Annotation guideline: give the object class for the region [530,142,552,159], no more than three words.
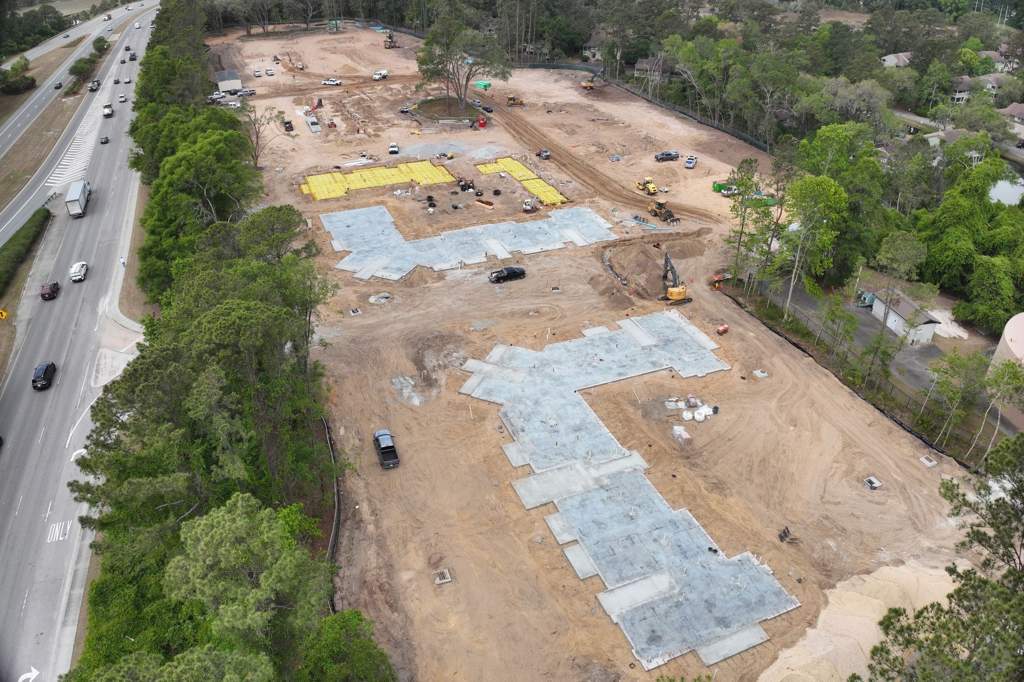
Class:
work vehicle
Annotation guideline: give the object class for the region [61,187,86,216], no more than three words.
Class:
truck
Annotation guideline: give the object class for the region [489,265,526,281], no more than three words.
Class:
vehicle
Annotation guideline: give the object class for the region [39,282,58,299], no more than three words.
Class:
car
